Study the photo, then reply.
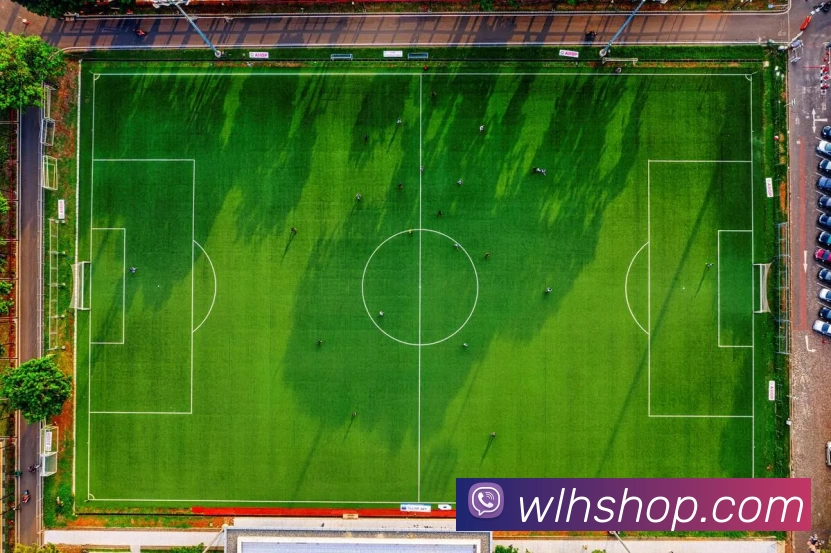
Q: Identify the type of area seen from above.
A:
sports ground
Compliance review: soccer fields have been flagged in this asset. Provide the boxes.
[76,63,765,518]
